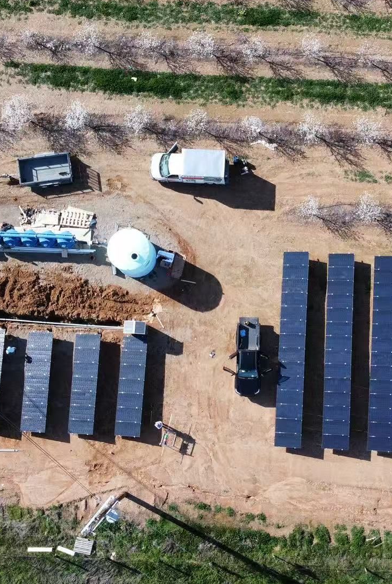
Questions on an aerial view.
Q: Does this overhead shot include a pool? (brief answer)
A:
No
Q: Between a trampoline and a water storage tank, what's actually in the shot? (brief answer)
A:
water storage tank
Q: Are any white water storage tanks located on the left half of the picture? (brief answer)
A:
Yes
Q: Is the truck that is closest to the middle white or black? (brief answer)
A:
black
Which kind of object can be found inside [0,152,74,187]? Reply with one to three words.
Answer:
trailer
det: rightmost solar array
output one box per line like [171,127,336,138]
[367,254,392,451]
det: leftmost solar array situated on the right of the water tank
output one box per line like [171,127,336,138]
[275,250,310,450]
